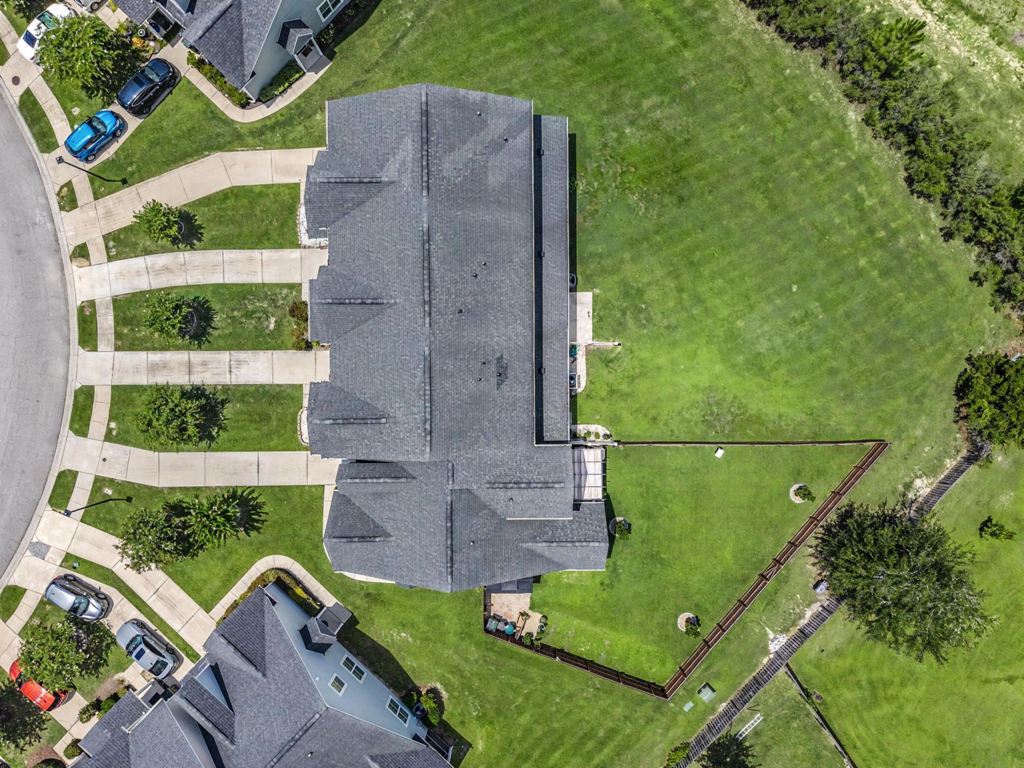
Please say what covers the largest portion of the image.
grass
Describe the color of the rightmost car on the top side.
black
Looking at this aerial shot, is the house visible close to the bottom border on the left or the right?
left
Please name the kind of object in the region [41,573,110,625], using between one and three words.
car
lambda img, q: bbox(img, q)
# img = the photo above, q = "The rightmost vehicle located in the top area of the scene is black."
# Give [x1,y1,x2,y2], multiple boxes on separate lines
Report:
[115,53,178,118]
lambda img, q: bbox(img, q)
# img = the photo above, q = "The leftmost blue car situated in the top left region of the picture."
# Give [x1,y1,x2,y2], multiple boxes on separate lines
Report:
[62,107,124,162]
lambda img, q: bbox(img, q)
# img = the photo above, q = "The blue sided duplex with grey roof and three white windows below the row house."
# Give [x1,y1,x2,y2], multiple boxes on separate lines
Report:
[73,582,453,768]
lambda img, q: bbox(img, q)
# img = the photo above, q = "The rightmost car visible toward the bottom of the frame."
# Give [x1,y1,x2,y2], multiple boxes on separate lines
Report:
[113,620,178,680]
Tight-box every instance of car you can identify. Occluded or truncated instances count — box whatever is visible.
[115,53,178,118]
[41,573,110,625]
[9,666,72,715]
[62,107,124,162]
[113,620,178,680]
[68,0,100,13]
[17,0,81,65]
